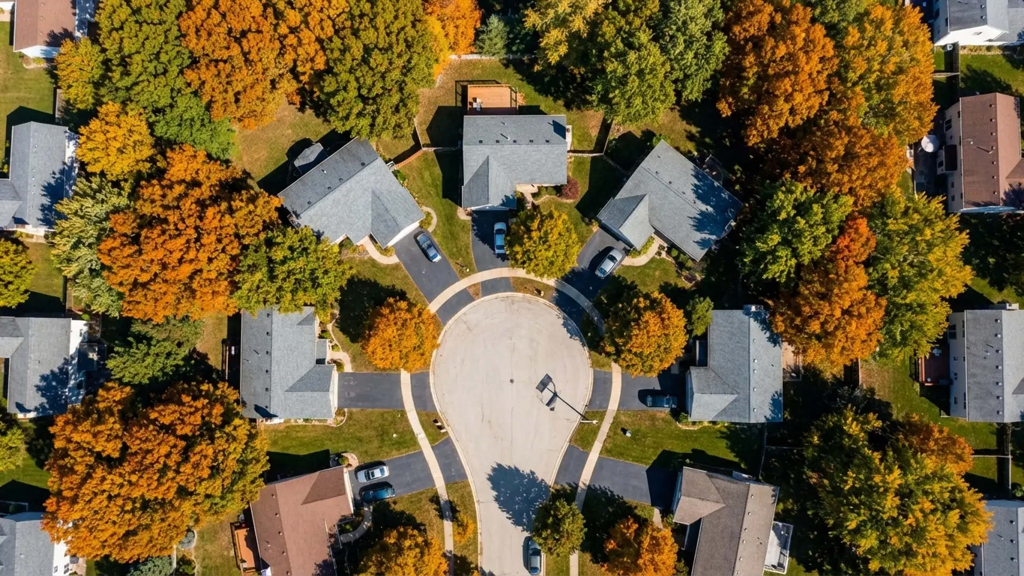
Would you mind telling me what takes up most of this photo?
trees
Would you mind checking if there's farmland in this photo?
No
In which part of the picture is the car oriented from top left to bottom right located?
center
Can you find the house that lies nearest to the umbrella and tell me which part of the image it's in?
top right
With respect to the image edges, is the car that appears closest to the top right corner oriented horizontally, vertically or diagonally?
diagonally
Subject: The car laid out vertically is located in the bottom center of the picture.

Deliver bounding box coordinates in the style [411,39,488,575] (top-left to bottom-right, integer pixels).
[527,538,543,573]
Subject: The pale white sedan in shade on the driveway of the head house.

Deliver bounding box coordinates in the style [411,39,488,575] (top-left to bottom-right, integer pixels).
[492,221,508,256]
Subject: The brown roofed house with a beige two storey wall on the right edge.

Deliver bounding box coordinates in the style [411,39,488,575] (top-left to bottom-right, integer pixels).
[932,94,1024,210]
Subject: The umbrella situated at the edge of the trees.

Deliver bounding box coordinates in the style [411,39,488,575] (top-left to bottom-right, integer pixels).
[918,135,938,153]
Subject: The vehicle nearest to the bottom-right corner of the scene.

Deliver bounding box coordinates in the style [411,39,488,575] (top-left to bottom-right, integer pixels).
[644,393,680,411]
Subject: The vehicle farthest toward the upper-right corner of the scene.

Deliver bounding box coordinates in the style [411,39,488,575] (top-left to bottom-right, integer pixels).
[594,247,624,280]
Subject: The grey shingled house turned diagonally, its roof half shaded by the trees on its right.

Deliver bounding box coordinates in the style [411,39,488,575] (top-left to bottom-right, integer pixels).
[596,139,742,262]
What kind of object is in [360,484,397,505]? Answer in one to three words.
car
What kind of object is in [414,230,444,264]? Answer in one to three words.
car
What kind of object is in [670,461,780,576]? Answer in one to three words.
house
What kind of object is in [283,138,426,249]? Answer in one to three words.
house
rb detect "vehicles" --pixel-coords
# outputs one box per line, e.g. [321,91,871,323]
[414,230,444,264]
[354,461,392,482]
[644,393,680,411]
[360,484,397,505]
[527,538,543,573]
[594,247,624,280]
[492,221,508,256]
